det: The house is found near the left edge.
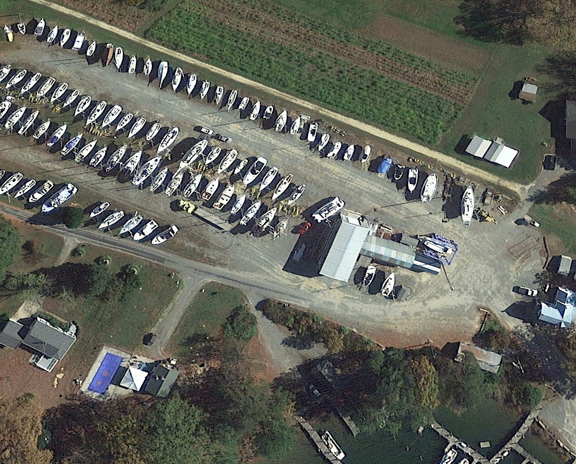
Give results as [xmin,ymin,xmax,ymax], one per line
[0,317,76,374]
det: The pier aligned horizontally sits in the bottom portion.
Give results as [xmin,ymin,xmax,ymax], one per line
[431,409,546,464]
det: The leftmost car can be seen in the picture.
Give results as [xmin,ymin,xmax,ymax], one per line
[145,332,157,345]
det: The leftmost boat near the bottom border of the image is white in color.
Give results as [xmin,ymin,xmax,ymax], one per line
[324,430,346,462]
